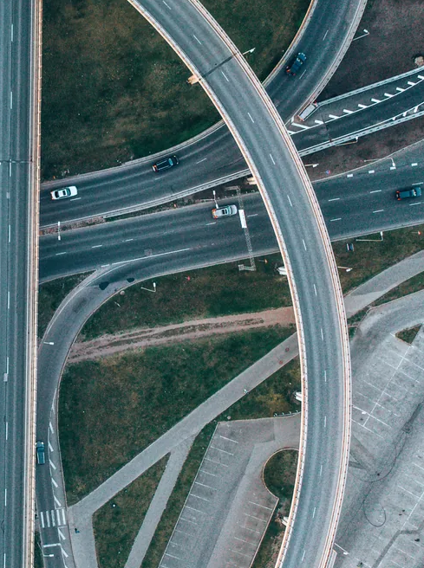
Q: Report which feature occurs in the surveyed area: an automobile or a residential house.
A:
automobile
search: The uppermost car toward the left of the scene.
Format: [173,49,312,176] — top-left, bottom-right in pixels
[151,156,179,173]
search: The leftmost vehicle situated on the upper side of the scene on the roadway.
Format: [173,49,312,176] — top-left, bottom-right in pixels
[50,185,78,199]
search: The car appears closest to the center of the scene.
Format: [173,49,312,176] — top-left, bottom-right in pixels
[210,205,237,219]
